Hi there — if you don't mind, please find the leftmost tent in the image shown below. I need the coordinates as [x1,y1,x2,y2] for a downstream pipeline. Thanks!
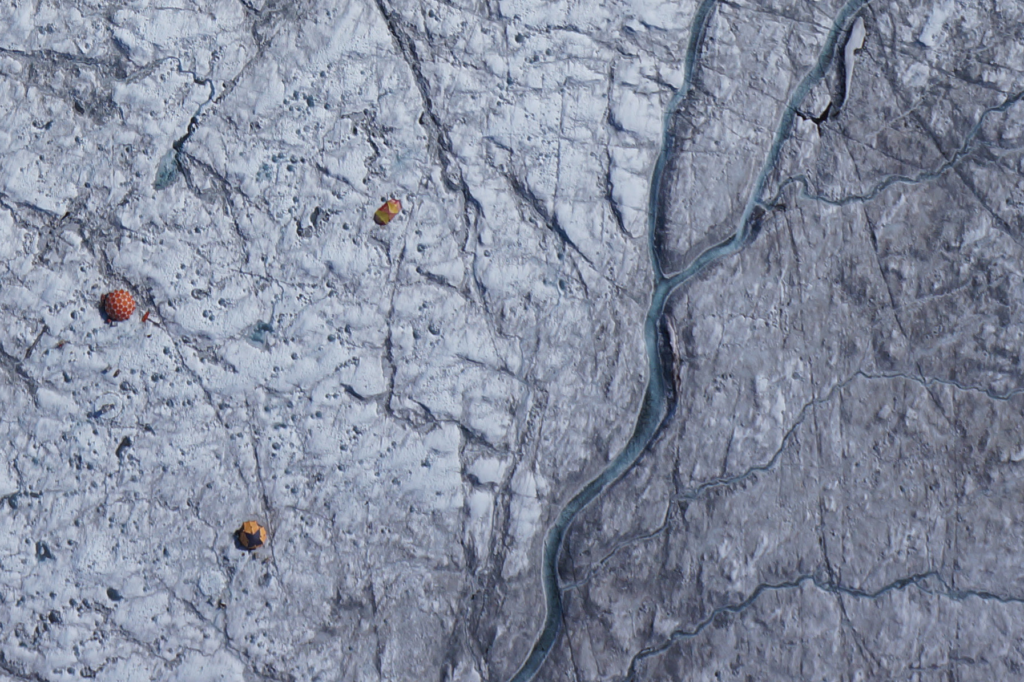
[103,287,137,322]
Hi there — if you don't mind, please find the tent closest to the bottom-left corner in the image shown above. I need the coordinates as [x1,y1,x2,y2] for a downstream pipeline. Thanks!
[238,520,266,549]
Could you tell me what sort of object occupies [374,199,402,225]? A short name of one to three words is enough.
tent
